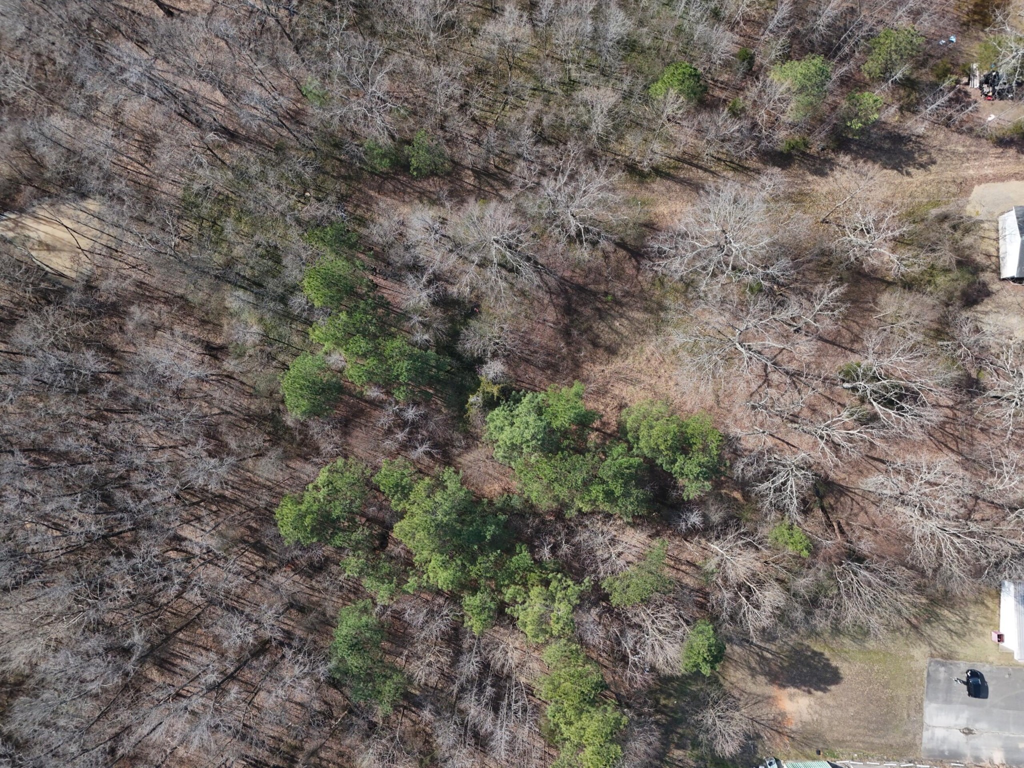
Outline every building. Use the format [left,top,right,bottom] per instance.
[1000,580,1024,668]
[782,761,830,768]
[999,208,1024,278]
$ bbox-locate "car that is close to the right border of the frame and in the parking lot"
[966,669,983,700]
